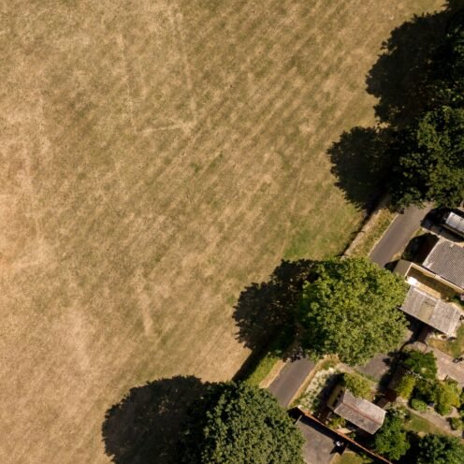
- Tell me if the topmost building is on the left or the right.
right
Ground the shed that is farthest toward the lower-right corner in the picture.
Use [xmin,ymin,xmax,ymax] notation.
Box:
[327,382,387,434]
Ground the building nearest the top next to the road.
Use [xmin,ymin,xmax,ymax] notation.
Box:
[433,213,464,242]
